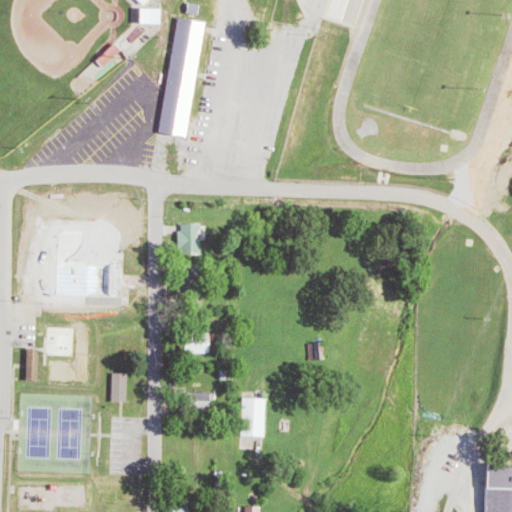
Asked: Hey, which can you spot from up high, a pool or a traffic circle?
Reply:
pool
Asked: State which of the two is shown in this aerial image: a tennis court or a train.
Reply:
tennis court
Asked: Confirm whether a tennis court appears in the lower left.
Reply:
Yes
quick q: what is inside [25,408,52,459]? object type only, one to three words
tennis court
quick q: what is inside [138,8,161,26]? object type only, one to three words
building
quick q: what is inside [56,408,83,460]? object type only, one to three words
tennis court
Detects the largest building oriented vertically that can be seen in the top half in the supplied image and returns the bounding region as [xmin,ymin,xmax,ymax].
[158,18,206,138]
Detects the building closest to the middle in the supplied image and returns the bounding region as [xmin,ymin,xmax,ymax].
[178,223,207,256]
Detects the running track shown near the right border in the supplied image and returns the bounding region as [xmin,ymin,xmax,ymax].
[334,0,512,176]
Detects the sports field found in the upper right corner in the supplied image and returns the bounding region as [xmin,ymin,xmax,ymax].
[346,0,512,162]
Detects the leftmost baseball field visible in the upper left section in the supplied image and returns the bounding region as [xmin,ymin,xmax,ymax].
[0,0,131,157]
